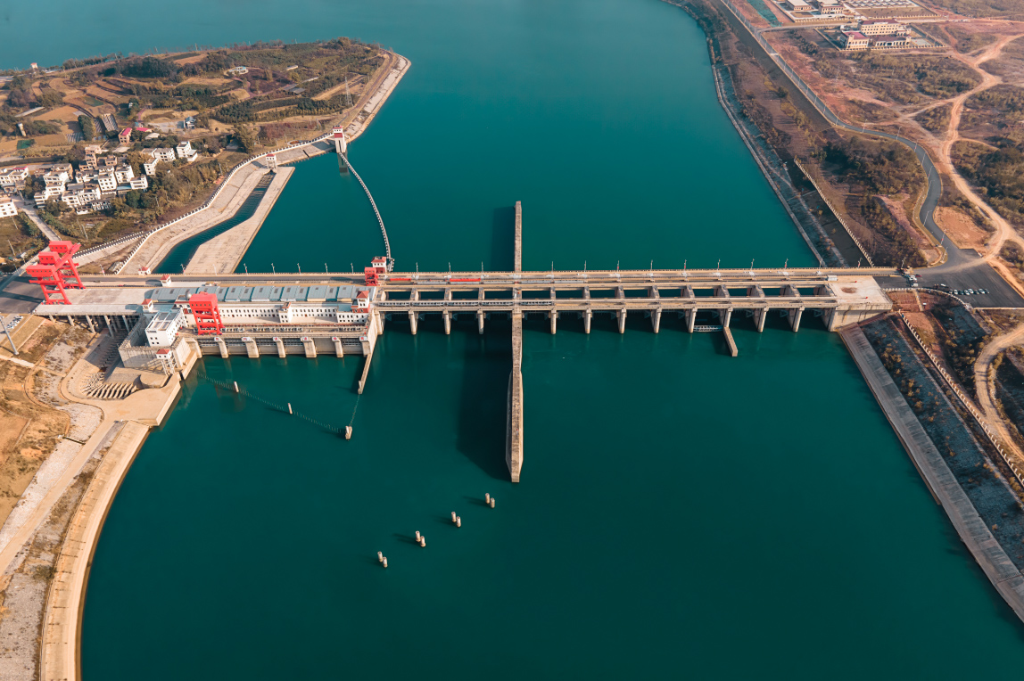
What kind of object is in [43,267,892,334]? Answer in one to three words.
dam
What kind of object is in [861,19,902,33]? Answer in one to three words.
building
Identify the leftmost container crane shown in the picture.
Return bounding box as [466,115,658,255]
[26,237,86,304]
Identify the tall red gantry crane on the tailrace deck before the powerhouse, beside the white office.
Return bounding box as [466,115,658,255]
[187,293,227,334]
